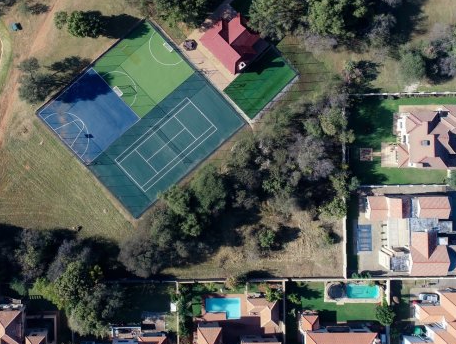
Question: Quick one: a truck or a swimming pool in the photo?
swimming pool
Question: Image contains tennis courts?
Yes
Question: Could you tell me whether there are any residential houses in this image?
Yes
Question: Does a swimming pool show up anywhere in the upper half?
No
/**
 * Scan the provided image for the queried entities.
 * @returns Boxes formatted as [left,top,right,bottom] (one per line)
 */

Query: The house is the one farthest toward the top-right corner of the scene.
[392,105,456,169]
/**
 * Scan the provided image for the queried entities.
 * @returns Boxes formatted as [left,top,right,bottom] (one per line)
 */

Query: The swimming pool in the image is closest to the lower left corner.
[204,297,241,319]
